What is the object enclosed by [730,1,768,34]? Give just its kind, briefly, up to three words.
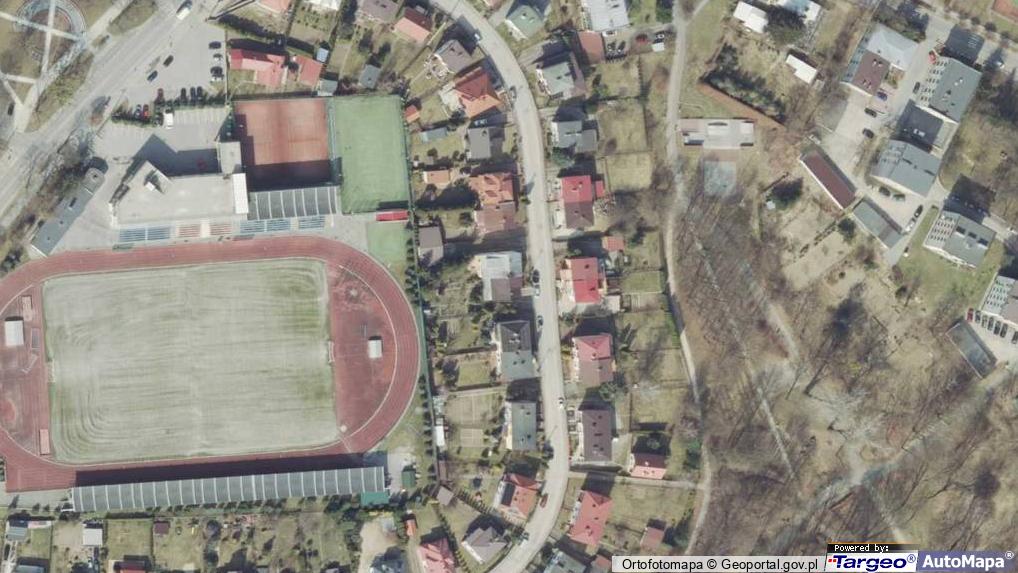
house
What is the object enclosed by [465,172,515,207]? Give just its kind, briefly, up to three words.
house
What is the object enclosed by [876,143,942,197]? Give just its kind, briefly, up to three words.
building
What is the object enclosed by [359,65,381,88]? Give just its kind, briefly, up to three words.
shed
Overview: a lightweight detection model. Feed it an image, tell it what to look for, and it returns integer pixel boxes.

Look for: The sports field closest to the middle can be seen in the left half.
[367,222,414,272]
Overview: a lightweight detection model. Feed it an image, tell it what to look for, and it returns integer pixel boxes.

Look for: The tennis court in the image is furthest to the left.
[234,99,283,190]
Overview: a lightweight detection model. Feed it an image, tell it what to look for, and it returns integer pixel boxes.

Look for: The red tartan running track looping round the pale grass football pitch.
[0,234,421,493]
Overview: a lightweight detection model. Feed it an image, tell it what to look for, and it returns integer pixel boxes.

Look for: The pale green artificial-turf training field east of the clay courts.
[335,95,412,215]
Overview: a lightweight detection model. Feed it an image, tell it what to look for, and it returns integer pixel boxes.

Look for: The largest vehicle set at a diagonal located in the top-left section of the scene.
[177,2,191,19]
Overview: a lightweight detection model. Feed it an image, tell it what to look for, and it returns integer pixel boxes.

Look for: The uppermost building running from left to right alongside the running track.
[105,161,250,224]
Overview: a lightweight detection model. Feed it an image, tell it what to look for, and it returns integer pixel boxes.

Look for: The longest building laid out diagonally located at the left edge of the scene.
[31,168,105,256]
